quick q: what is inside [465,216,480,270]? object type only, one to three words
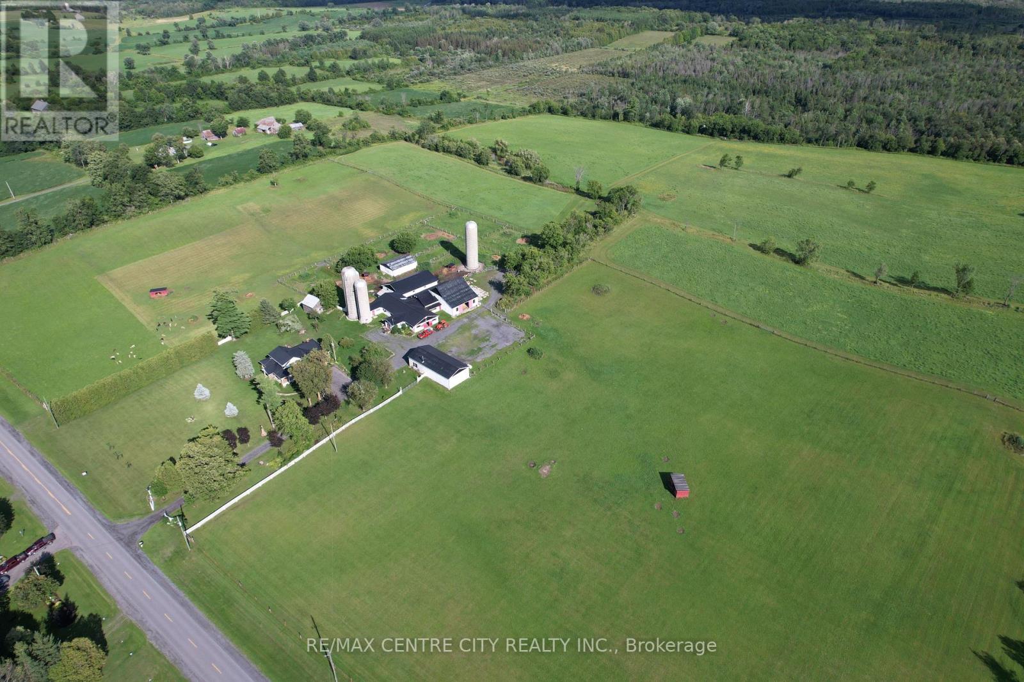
silo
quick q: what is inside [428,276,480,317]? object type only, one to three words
barn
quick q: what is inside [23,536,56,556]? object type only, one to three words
vehicle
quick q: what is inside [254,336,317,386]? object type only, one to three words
house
